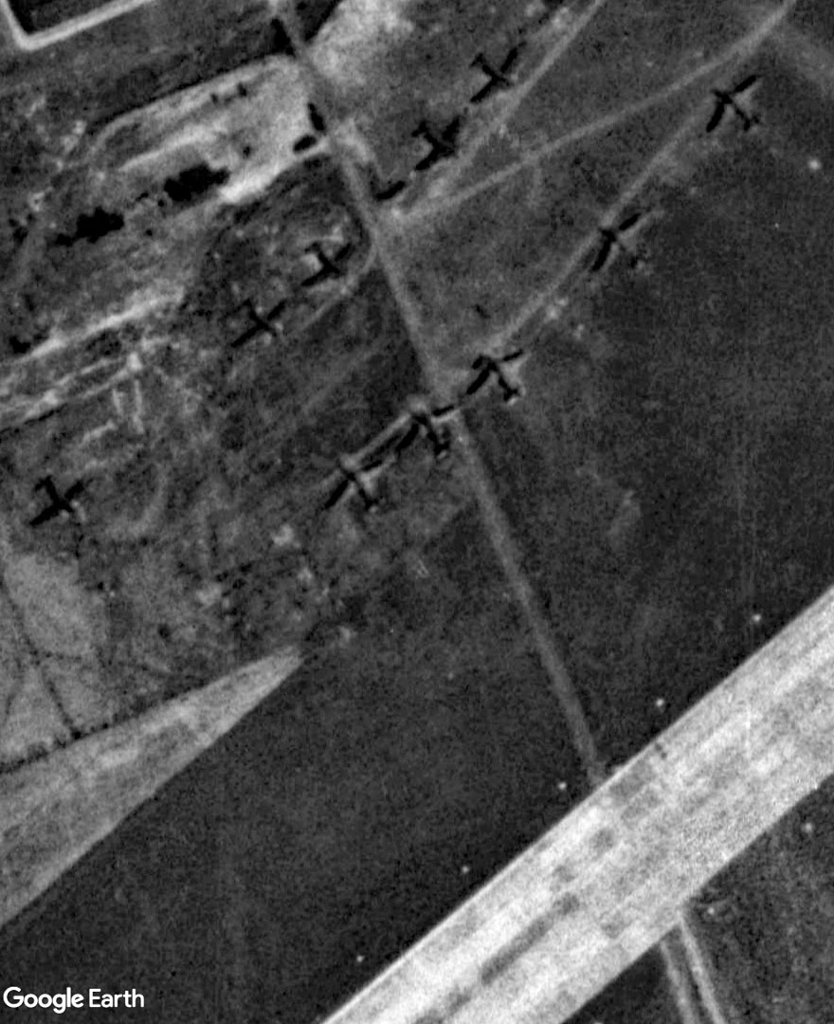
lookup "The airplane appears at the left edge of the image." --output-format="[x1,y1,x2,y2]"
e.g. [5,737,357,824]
[31,479,86,523]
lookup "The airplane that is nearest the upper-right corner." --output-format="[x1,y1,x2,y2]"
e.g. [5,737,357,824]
[713,77,768,134]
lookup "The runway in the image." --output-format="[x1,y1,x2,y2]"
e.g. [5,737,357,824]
[321,590,834,1024]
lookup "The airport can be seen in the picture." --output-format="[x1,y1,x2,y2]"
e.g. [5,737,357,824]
[0,590,834,1024]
